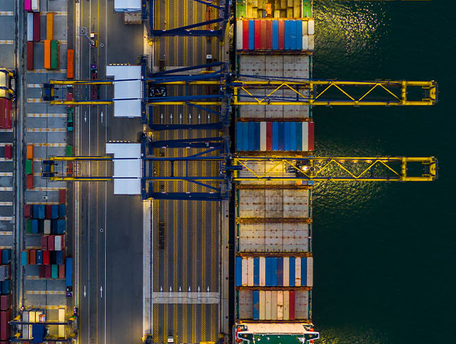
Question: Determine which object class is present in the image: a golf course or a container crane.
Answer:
container crane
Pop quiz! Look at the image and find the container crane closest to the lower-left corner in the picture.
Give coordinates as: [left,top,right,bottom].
[7,306,80,344]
